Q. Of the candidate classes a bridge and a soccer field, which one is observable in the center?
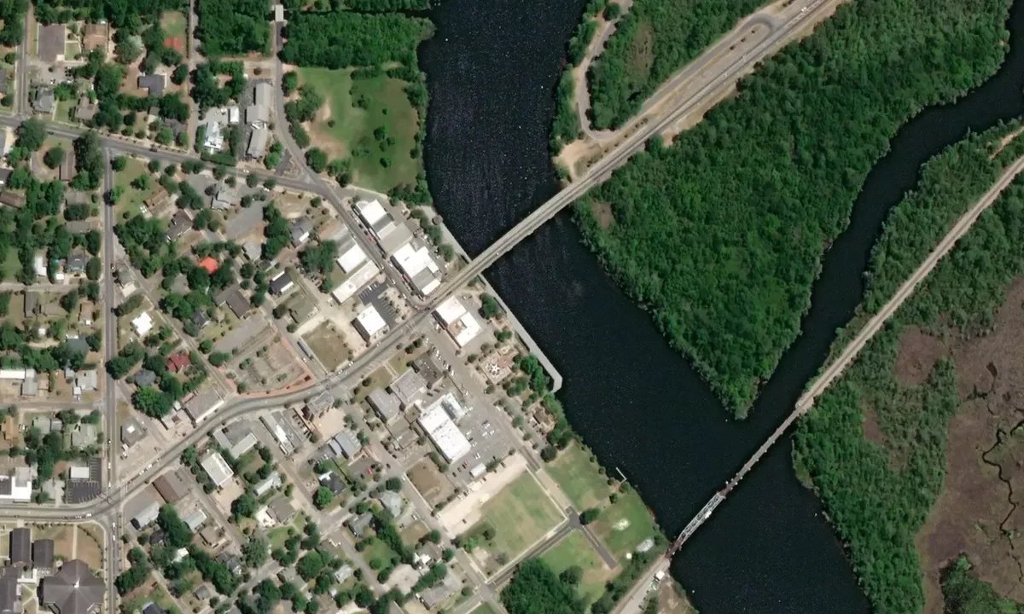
bridge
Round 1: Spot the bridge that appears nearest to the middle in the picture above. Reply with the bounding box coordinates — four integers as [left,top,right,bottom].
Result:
[411,174,596,319]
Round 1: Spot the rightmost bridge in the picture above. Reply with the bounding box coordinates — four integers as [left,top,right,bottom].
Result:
[667,405,802,559]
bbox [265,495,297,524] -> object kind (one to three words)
house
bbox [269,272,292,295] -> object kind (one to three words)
house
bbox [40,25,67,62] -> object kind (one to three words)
building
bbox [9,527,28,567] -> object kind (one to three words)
building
